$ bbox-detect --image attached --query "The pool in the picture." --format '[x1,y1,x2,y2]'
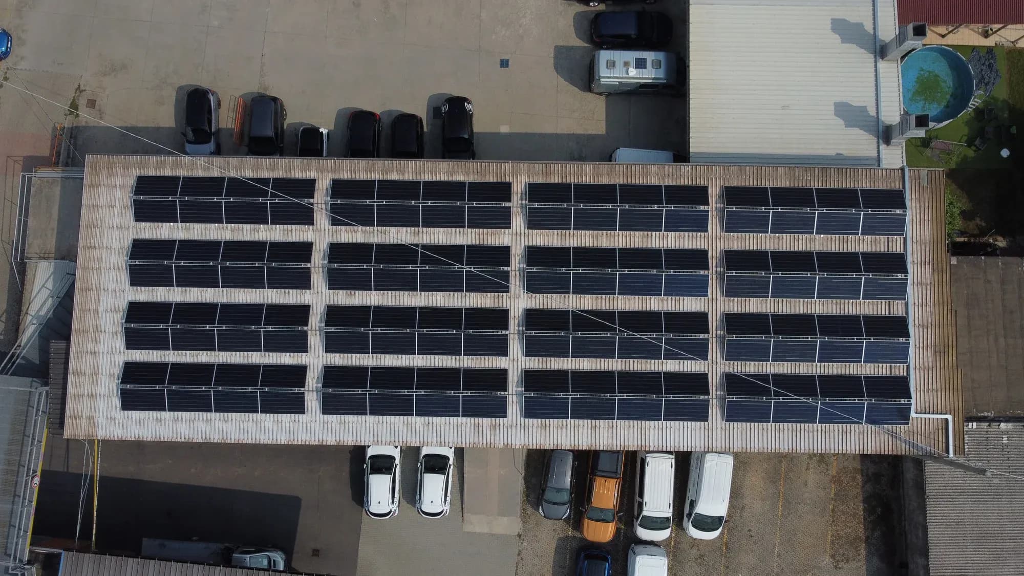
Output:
[902,48,977,128]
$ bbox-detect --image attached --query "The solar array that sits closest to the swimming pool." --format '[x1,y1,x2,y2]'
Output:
[724,185,907,239]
